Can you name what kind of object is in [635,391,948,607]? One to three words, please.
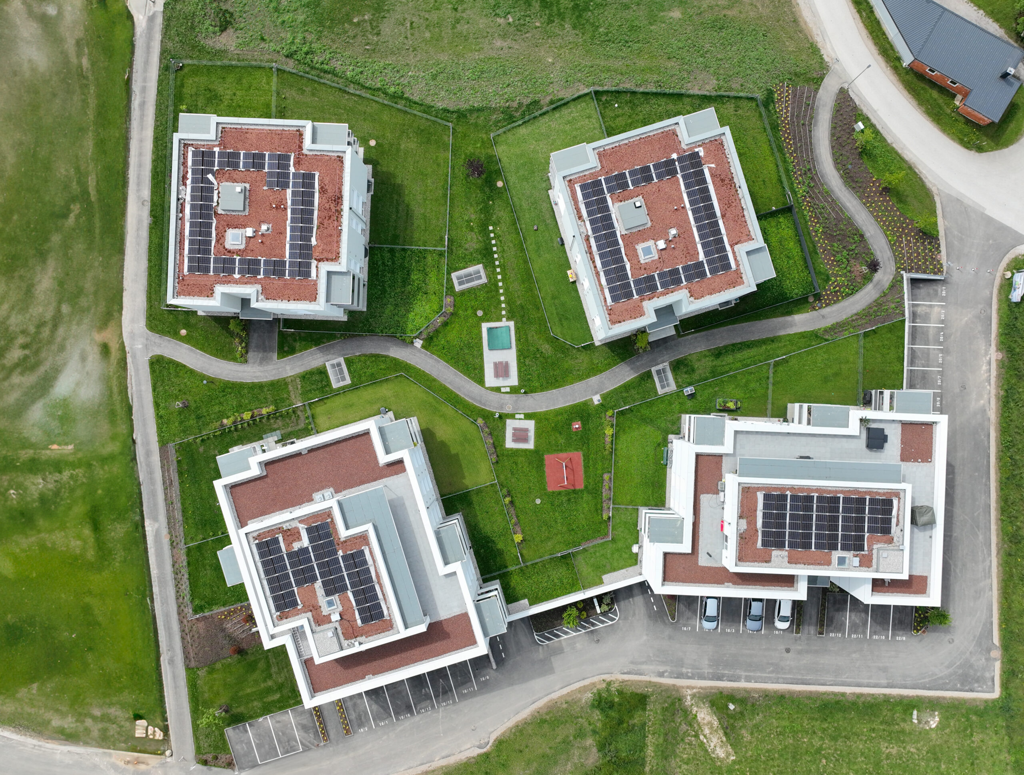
building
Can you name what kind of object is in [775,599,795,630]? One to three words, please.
car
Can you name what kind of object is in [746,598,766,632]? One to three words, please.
car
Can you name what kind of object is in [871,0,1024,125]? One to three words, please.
house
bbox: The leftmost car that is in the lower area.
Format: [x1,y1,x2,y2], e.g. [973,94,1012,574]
[702,596,721,630]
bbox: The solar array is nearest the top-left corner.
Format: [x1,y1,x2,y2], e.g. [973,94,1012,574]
[182,148,316,280]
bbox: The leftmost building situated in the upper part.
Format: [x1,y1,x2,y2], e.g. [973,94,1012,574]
[167,113,368,320]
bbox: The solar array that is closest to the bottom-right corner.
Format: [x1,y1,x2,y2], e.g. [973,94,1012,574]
[757,492,895,554]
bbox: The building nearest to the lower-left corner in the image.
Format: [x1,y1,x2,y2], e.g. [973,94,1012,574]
[213,413,511,709]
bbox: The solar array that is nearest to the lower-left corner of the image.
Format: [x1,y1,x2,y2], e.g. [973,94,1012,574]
[251,520,386,627]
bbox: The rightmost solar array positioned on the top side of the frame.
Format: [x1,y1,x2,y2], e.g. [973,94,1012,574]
[576,148,736,304]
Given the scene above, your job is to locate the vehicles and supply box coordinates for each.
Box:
[746,598,766,632]
[702,596,721,630]
[775,599,795,630]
